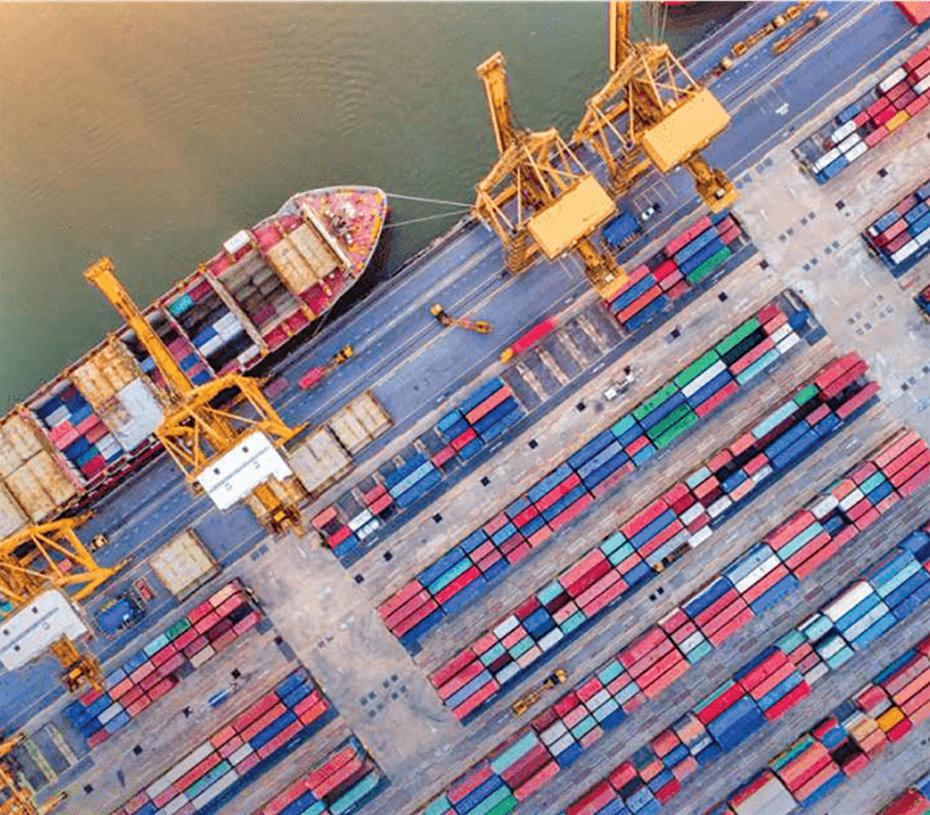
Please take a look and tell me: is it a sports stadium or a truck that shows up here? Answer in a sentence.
Visible in the photo is a truck.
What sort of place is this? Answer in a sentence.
The picture captures a port.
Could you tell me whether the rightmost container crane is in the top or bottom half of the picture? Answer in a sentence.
The top half of the photo is where the rightmost container crane is.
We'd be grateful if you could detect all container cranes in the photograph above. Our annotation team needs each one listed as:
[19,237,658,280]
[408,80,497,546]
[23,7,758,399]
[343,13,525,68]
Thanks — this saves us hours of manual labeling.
[81,259,308,543]
[0,734,62,815]
[569,0,744,215]
[465,38,635,300]
[0,512,125,696]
